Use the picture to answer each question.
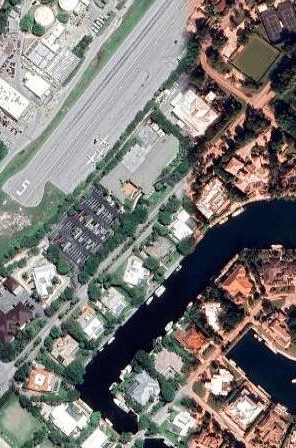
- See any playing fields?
Yes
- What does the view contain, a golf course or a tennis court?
tennis court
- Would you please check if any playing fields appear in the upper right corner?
Yes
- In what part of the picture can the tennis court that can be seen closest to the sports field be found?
top right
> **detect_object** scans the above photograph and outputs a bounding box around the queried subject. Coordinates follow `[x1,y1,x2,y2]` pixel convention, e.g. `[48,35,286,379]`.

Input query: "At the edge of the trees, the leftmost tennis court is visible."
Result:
[257,7,284,44]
